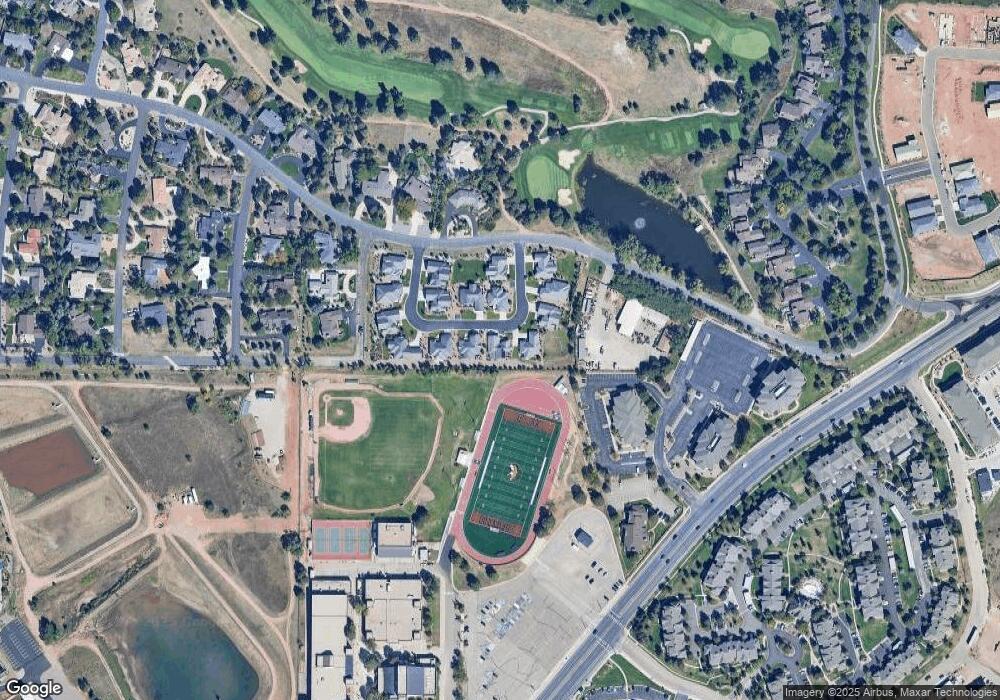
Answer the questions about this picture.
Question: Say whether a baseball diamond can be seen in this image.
Yes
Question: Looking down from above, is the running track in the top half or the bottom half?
bottom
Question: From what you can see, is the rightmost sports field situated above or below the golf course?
below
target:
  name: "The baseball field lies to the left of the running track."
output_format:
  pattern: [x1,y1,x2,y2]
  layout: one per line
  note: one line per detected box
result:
[312,381,444,514]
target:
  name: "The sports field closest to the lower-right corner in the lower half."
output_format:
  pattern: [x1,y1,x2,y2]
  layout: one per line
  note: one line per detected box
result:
[465,399,562,556]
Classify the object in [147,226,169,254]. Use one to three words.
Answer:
house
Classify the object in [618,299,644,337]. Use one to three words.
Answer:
building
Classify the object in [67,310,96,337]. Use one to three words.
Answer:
house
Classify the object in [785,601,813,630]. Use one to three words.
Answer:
building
